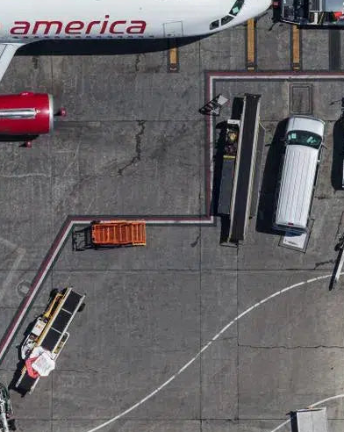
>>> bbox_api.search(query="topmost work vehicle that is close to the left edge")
[15,287,83,393]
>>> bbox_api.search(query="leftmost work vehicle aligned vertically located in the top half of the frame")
[221,96,267,247]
